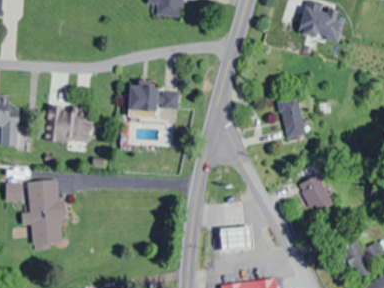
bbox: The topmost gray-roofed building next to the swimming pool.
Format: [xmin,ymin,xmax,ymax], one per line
[129,82,180,110]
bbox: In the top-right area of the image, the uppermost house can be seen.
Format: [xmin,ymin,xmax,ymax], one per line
[297,1,350,45]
